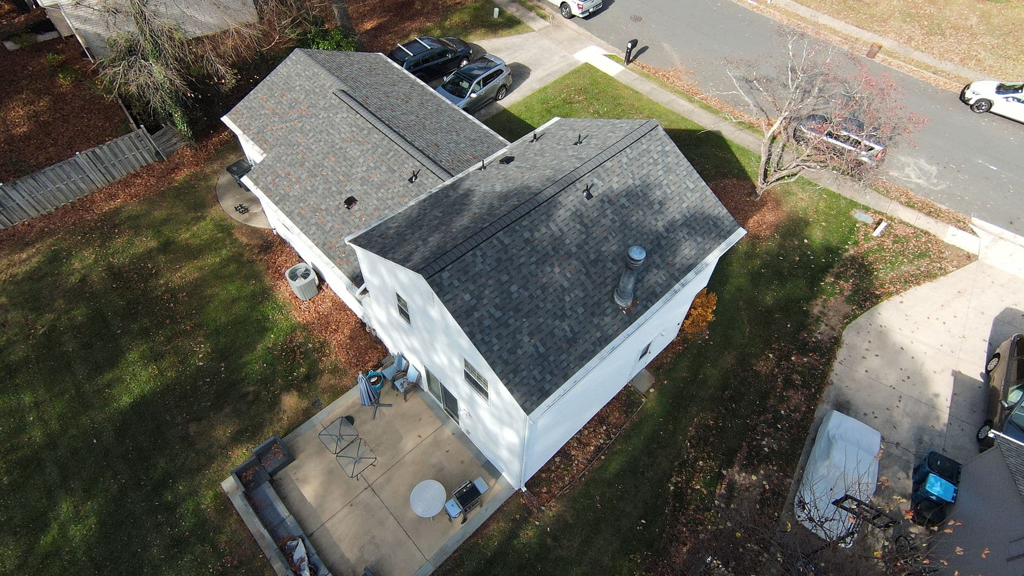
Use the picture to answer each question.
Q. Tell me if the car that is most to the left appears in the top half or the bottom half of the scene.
top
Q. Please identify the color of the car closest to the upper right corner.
white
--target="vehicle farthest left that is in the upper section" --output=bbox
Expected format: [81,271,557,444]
[390,30,474,81]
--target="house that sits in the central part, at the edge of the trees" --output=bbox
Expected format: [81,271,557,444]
[220,49,748,499]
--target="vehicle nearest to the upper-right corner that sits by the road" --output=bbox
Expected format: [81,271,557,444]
[960,73,1024,125]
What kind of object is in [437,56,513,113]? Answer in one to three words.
car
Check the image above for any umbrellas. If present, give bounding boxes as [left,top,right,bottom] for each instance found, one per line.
[361,368,391,418]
